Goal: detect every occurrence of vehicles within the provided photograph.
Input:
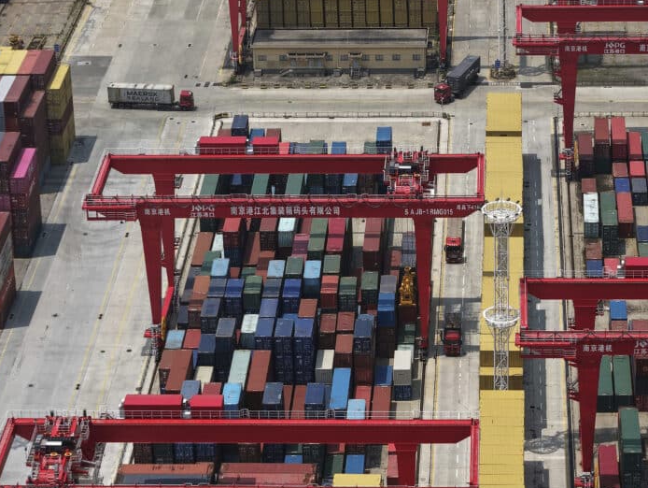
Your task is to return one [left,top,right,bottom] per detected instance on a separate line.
[443,297,464,352]
[436,65,483,101]
[447,219,465,254]
[104,86,196,106]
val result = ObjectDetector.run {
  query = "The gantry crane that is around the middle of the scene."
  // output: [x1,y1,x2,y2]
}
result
[82,133,490,355]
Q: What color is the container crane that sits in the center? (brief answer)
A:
red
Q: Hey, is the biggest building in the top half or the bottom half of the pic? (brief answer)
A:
top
